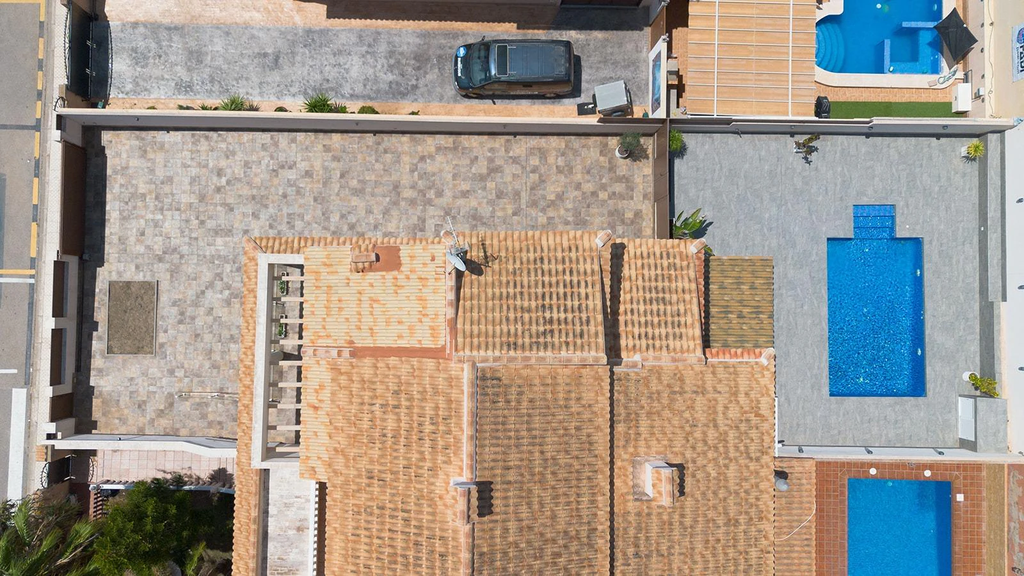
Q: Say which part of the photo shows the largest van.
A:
top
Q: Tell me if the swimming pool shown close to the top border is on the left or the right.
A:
right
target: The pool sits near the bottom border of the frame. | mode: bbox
[848,479,951,576]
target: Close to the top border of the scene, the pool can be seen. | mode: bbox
[815,0,943,73]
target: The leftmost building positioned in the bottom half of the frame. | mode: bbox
[231,228,779,576]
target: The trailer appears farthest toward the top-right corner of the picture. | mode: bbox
[585,81,630,115]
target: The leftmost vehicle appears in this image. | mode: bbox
[452,40,574,102]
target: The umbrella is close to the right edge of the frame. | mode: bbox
[933,8,977,70]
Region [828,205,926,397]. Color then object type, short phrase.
blue swimming pool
